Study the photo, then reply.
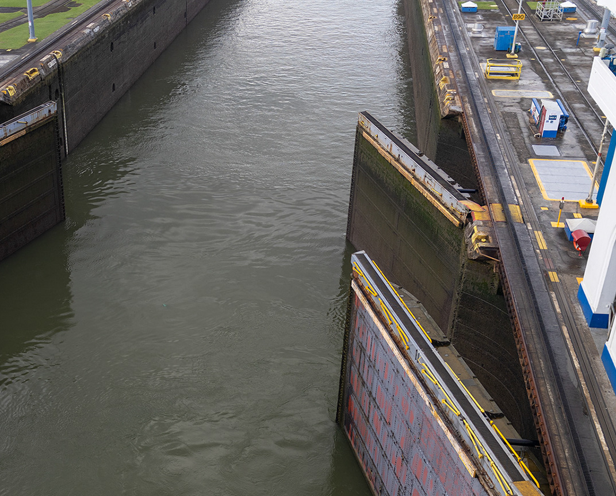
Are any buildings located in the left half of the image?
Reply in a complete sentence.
No, looking in the left half of the image, there is no building.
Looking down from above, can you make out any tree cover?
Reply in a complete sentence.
No, the scene doesn't show any tree cover.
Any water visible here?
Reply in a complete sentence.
Yes, there is water in the image.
